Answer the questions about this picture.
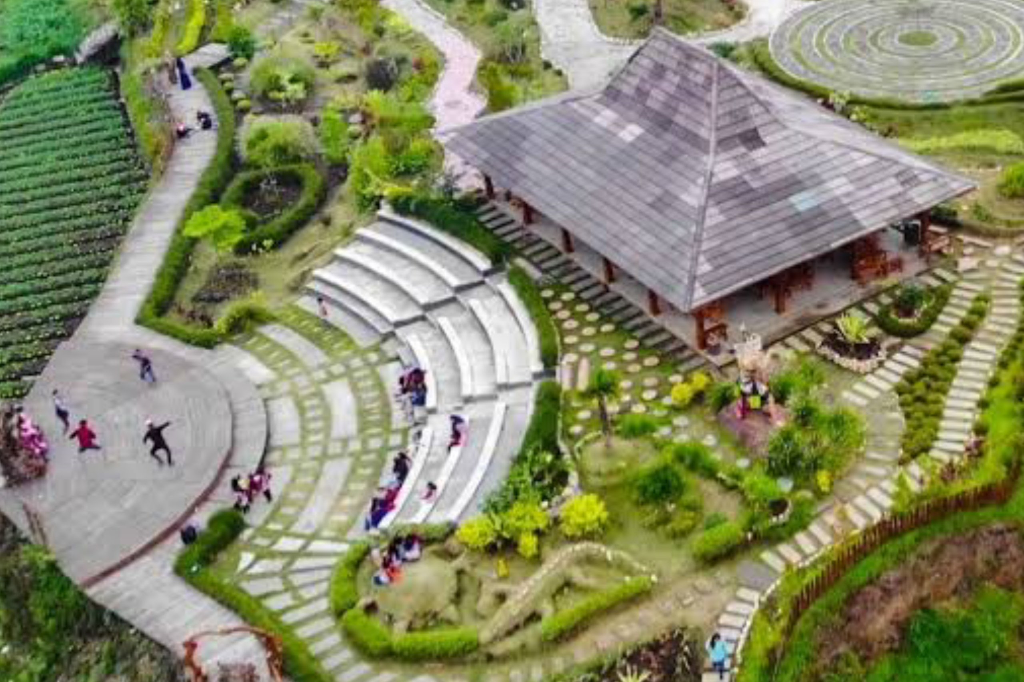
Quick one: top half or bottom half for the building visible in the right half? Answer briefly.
top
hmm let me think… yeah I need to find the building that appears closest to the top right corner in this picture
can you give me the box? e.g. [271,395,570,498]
[440,24,979,377]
